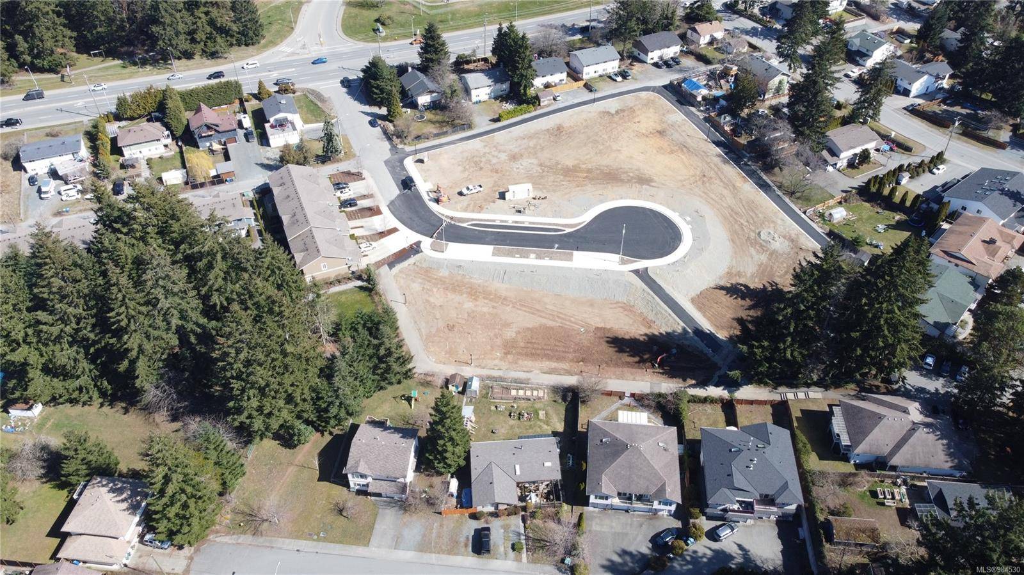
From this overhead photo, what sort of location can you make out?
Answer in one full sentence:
It's a residential area.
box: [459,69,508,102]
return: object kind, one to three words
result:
house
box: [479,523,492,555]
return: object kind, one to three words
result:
vehicle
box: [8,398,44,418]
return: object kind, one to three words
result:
shed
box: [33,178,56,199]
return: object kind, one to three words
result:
vehicle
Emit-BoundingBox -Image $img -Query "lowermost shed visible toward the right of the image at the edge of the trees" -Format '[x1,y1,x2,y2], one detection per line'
[826,516,881,550]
